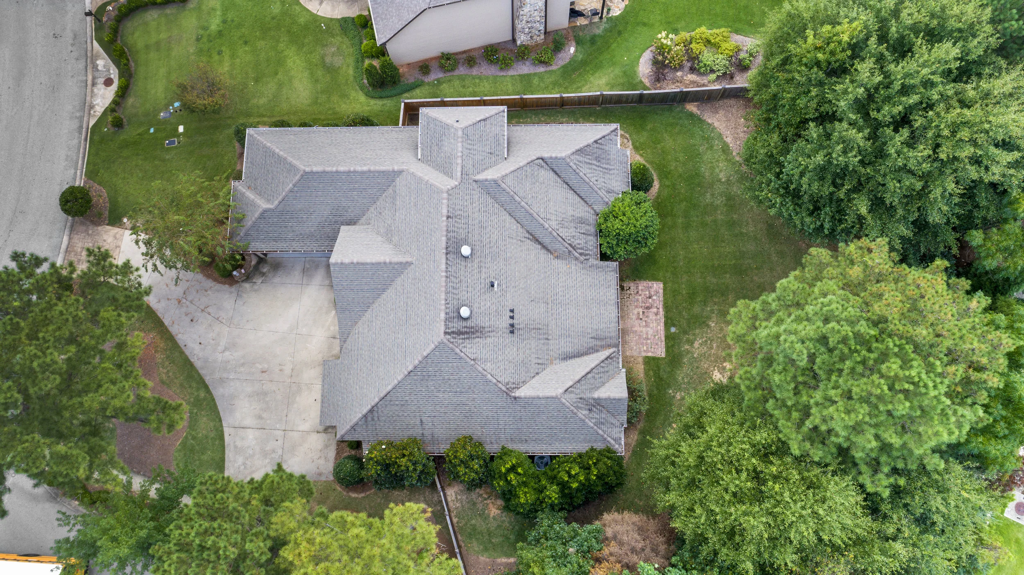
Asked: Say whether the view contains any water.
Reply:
No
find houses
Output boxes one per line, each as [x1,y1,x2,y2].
[224,105,633,457]
[365,0,573,65]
